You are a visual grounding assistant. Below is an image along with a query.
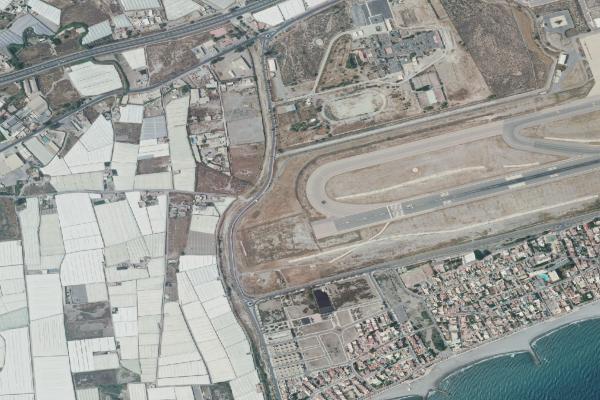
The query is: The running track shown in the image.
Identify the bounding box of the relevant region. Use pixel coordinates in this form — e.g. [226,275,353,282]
[322,90,387,124]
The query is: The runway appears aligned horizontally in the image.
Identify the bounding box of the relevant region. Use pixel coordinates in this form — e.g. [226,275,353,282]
[335,155,600,228]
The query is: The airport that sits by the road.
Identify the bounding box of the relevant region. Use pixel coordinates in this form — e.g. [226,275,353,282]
[233,30,600,295]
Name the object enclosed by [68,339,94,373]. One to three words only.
greenhouse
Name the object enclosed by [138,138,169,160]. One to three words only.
greenhouse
